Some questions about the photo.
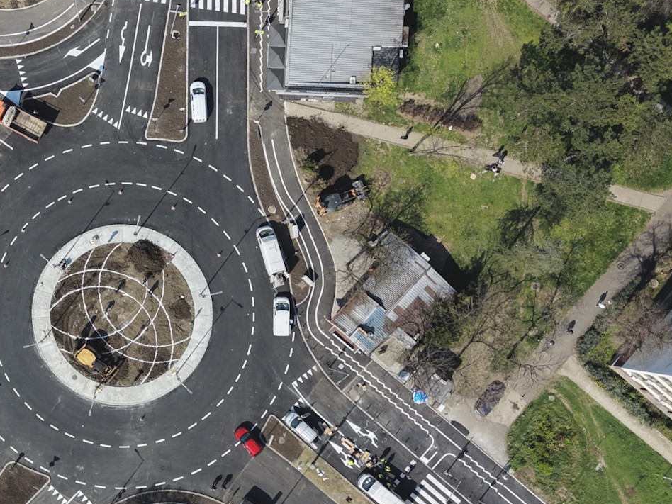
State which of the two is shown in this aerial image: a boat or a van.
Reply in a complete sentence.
The one in the frame is a van.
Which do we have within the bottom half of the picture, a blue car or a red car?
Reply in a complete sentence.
Visible within the bottom half of the picture is a red car.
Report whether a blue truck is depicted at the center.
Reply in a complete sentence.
No, there's no blue truck to be seen at the center.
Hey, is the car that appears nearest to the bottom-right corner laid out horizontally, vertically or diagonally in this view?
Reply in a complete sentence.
Seen from above, the car that appears nearest to the bottom-right corner lies diagonally.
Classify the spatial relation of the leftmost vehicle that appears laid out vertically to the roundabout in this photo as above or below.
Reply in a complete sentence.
In the image, the leftmost vehicle that appears laid out vertically appears above the roundabout.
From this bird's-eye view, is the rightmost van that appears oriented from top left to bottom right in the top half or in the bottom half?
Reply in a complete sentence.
It is in the bottom half that the rightmost van that appears oriented from top left to bottom right appears.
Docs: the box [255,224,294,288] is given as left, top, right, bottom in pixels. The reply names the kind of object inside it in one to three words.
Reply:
truck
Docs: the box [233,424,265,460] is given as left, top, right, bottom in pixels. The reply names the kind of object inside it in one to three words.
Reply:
car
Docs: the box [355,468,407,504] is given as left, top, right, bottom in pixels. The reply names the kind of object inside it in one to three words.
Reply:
van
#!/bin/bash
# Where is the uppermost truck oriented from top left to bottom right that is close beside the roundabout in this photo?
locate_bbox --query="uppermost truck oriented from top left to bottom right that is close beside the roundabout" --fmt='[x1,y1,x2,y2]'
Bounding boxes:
[0,95,47,143]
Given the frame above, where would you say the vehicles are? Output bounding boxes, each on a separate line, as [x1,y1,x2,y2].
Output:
[283,407,327,453]
[355,468,407,504]
[473,376,508,417]
[238,494,260,504]
[255,224,294,288]
[305,181,366,224]
[188,82,209,124]
[66,337,122,383]
[233,424,265,460]
[0,95,47,143]
[271,297,292,336]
